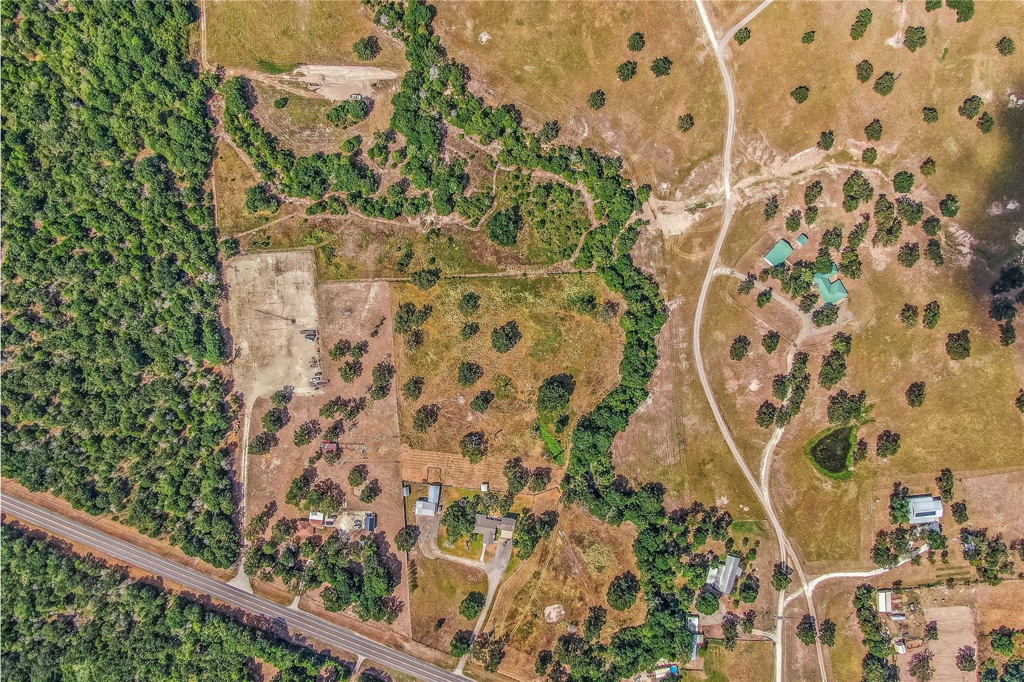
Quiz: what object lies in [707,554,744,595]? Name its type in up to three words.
house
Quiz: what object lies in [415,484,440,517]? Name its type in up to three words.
building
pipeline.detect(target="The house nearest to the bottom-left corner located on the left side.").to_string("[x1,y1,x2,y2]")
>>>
[298,511,335,536]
